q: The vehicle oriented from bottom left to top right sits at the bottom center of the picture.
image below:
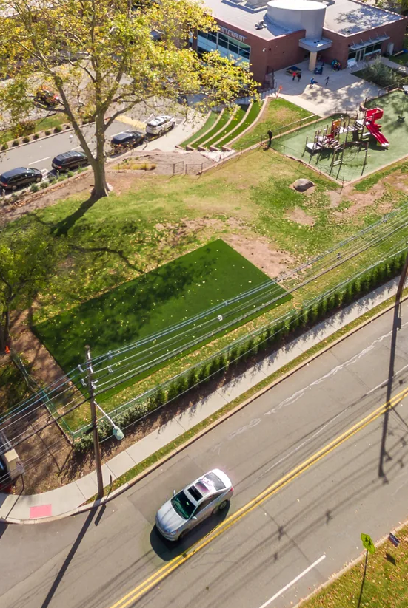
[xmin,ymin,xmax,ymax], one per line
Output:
[149,466,235,539]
